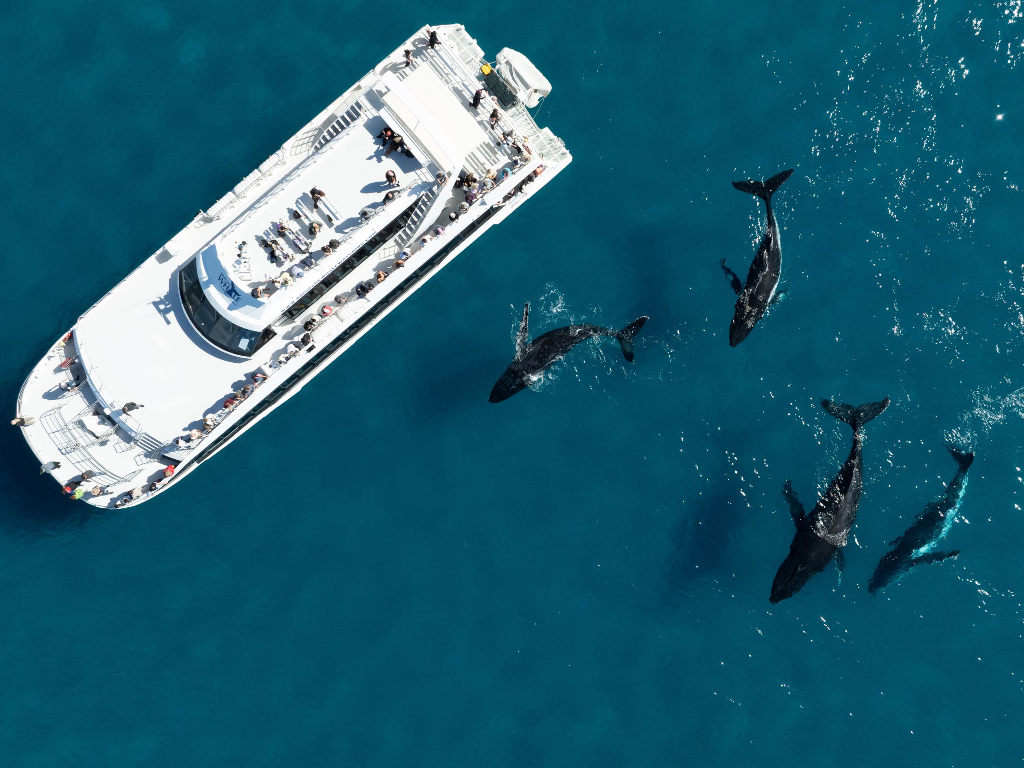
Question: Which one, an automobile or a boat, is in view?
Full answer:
The one in the frame is a boat.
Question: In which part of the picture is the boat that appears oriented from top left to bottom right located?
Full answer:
The boat that appears oriented from top left to bottom right appears toward the top of the photo.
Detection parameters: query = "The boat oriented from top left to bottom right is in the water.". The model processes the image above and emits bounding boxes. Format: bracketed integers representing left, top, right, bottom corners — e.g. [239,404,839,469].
[498,46,550,109]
